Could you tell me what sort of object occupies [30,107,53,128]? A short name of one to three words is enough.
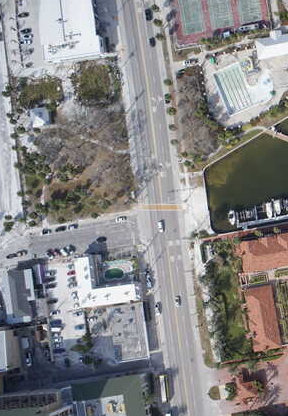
house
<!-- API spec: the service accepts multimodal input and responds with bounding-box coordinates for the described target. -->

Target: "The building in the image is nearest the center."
[74,256,146,309]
